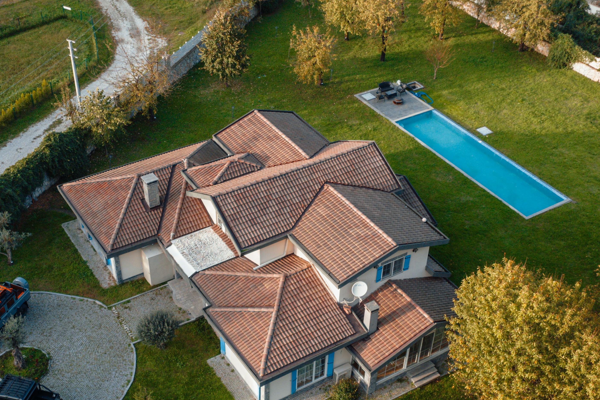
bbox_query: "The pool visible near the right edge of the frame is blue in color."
[394,109,575,219]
